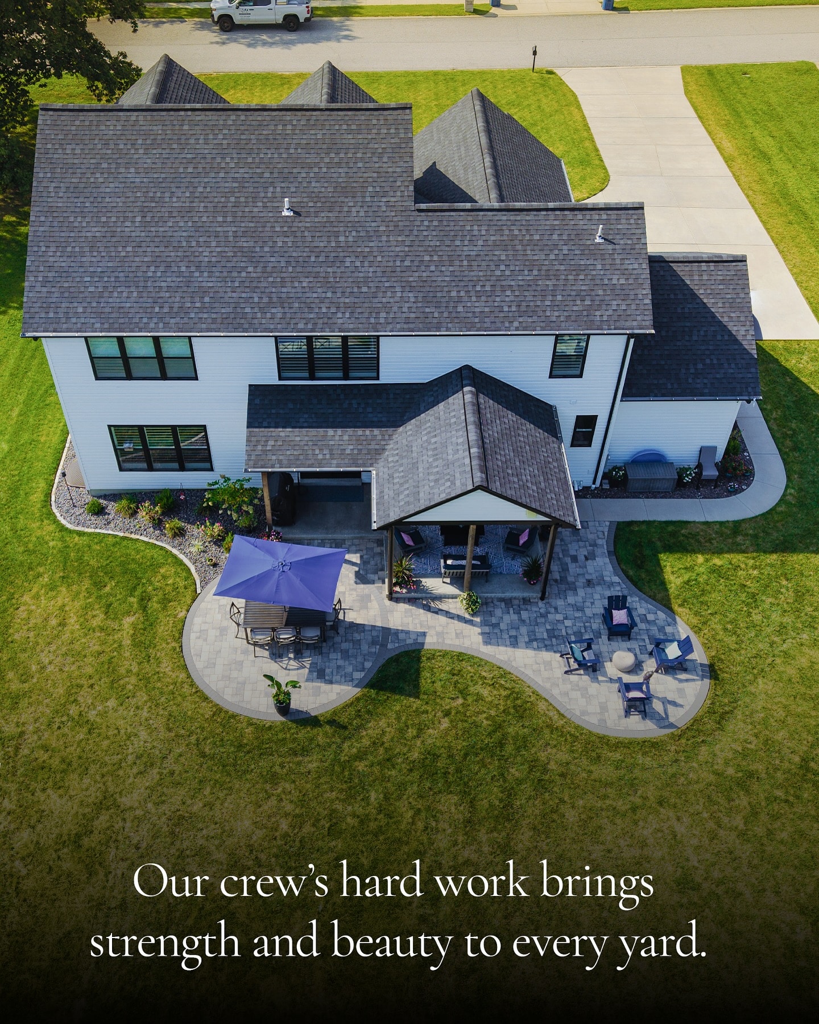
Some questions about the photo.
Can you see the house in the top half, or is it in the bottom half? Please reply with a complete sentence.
The house is in the top half of the image.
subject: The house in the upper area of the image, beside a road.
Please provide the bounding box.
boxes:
[19,51,763,602]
